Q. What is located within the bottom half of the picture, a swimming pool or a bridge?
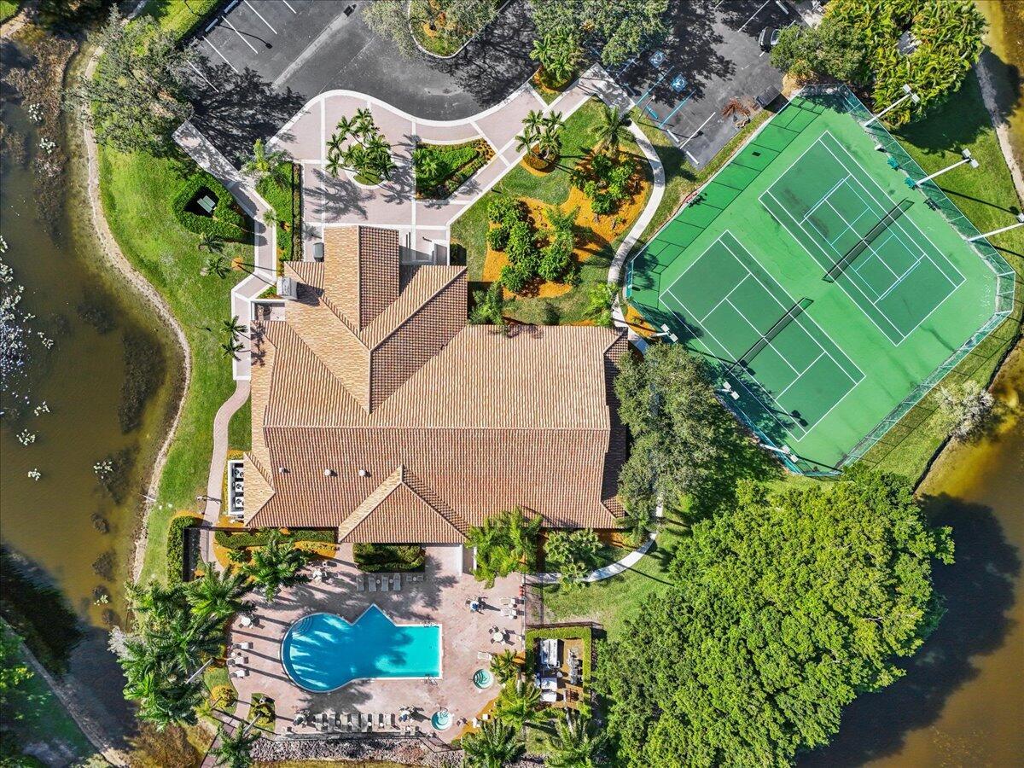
swimming pool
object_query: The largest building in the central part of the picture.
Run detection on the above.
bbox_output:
[242,226,628,543]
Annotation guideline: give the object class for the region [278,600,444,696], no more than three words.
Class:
swimming pool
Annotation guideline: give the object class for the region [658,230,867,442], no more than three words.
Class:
tennis court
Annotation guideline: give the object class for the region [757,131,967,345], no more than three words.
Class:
tennis court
